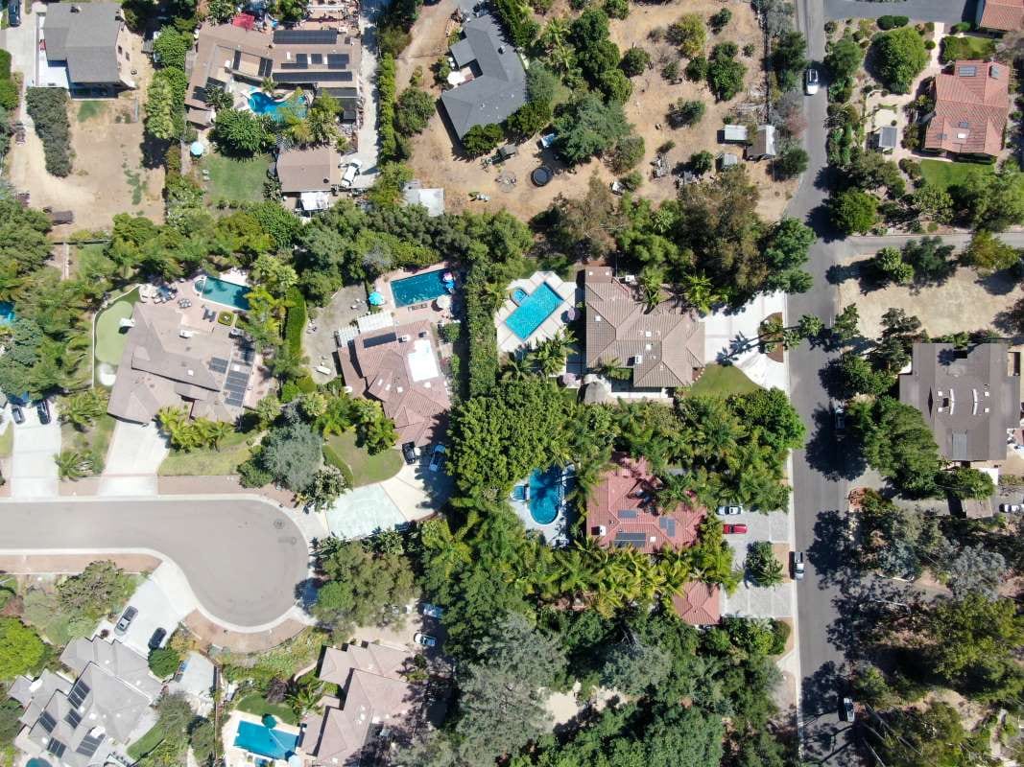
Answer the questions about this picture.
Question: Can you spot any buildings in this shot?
Yes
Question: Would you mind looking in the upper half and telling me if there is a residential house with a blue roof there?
No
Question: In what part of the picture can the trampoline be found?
top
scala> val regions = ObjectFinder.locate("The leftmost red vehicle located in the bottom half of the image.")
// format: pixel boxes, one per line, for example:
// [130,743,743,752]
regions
[723,524,750,536]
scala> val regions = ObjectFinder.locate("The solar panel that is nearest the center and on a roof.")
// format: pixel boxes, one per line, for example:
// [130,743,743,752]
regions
[364,333,397,348]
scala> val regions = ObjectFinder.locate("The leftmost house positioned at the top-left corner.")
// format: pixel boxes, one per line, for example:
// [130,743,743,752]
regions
[42,1,136,102]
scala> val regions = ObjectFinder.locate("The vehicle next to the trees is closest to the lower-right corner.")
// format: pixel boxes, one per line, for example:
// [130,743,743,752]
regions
[843,698,857,725]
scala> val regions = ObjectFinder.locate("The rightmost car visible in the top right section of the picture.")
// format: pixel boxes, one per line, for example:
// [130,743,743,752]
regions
[807,66,821,94]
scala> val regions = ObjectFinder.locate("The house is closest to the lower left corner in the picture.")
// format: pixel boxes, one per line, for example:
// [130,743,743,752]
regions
[6,633,170,767]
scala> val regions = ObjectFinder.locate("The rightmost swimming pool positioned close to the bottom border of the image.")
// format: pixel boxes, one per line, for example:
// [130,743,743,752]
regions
[231,719,302,762]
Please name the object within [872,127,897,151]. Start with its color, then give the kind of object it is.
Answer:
gray gazebo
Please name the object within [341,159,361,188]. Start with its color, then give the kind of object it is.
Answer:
white car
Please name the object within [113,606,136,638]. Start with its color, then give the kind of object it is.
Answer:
gray vehicle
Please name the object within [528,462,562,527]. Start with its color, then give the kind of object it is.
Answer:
blue swimming pool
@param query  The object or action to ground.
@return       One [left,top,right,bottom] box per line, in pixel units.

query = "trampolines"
[531,163,551,185]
